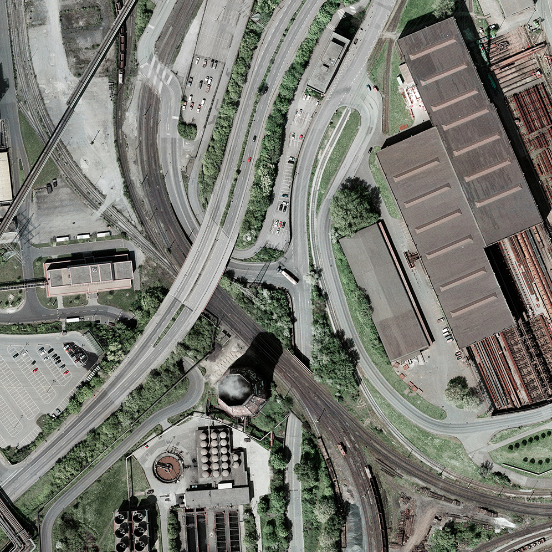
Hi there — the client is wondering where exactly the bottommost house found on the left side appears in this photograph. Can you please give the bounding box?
[184,487,250,509]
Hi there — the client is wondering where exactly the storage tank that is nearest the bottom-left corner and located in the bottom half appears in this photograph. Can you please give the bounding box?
[153,452,183,483]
